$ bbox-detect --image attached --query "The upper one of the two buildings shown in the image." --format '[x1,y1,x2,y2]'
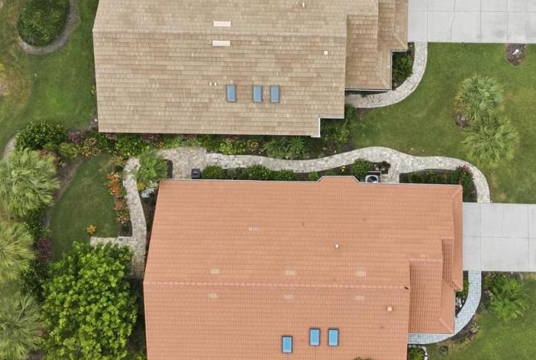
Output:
[93,0,408,137]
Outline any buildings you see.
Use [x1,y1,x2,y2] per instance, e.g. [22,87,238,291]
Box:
[93,0,408,137]
[143,175,463,360]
